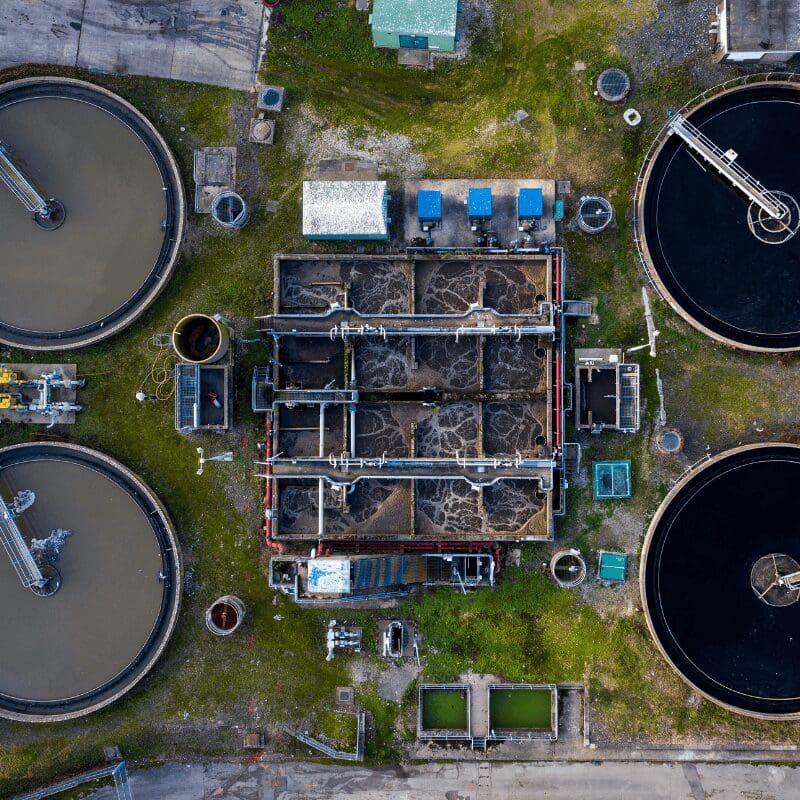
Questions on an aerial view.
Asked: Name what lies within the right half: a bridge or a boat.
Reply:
bridge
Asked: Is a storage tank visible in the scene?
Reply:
Yes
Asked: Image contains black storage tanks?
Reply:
Yes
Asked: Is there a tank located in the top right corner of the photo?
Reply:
Yes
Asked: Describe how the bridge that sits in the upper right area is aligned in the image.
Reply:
at an angle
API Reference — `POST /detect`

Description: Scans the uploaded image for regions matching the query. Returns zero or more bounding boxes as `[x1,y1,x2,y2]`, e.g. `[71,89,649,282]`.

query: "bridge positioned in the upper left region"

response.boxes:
[0,150,52,217]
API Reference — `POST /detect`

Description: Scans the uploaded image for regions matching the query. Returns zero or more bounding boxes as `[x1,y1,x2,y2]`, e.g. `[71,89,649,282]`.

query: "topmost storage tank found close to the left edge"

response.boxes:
[0,77,190,353]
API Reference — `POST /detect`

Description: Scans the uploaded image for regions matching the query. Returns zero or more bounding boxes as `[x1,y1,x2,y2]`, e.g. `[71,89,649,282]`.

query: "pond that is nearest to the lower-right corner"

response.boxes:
[486,679,558,739]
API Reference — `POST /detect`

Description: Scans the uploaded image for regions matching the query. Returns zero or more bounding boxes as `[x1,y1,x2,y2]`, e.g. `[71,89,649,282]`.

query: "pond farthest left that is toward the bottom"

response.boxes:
[418,679,470,739]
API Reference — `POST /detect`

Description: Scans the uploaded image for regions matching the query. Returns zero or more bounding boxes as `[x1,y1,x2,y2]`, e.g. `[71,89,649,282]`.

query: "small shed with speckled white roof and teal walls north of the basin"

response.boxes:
[302,180,388,240]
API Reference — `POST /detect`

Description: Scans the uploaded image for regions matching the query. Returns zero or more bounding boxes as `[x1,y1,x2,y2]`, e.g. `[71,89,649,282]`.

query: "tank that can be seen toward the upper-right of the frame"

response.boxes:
[630,65,800,354]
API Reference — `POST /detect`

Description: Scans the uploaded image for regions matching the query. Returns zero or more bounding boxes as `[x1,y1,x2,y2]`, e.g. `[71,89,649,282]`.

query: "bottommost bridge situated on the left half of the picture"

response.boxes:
[0,477,49,578]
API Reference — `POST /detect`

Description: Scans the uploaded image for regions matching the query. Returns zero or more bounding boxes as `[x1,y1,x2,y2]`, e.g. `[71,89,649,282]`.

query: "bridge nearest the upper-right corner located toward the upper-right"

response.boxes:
[677,119,783,220]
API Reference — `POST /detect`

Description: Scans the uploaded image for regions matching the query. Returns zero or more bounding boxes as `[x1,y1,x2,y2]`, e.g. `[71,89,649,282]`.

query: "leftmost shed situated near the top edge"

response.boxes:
[369,0,463,49]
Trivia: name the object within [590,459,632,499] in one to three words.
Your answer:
storage tank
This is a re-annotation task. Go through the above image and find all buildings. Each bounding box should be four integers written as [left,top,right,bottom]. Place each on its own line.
[369,0,463,49]
[302,180,388,240]
[708,0,800,64]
